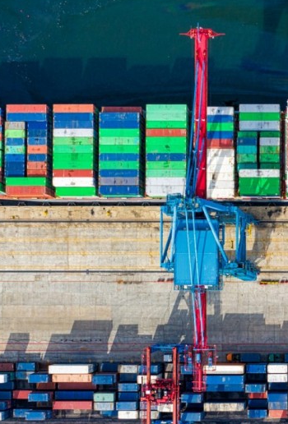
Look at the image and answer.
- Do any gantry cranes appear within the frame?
Yes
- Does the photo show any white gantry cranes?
No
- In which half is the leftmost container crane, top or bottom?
bottom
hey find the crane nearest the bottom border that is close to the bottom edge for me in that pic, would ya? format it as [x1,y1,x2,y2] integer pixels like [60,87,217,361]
[141,342,195,424]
